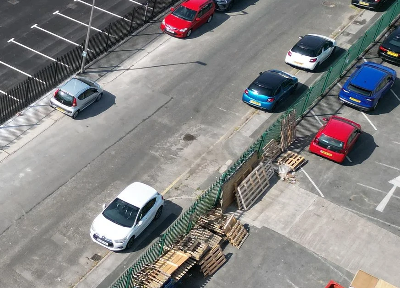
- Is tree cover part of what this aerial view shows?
No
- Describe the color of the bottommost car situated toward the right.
red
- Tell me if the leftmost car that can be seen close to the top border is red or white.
red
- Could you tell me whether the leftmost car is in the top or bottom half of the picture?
top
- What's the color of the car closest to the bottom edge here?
white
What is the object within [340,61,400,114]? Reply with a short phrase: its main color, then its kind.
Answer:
blue car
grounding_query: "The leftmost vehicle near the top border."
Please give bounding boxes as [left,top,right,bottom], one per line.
[162,0,217,39]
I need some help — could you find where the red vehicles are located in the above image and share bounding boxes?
[162,0,217,39]
[312,114,369,164]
